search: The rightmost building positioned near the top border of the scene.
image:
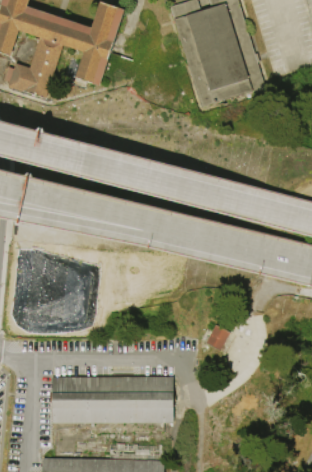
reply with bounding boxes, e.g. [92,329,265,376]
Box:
[172,0,264,111]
